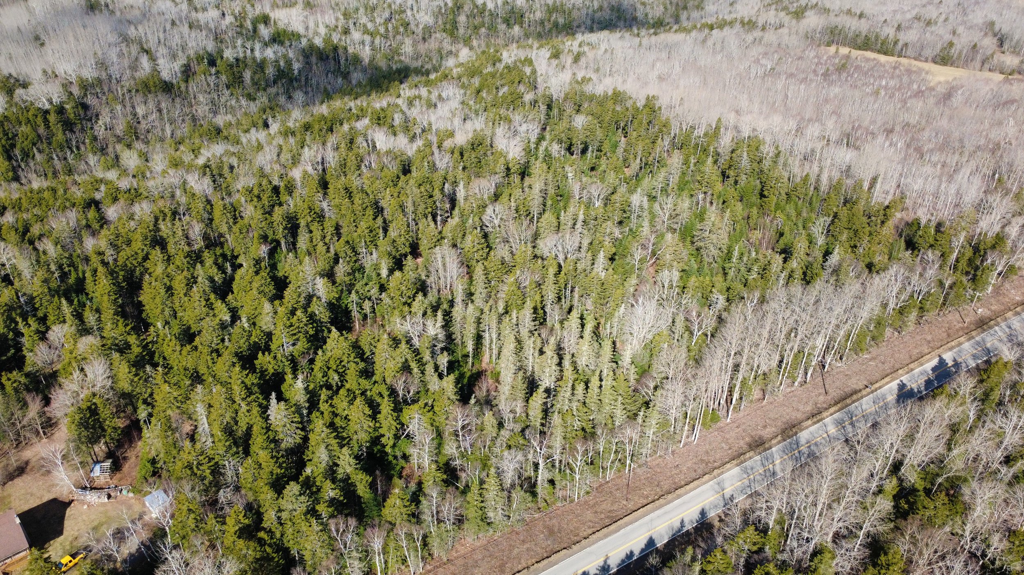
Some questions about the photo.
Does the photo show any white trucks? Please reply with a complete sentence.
No, the scene contains no white truck.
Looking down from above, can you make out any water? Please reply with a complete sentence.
No, there's no water in this view.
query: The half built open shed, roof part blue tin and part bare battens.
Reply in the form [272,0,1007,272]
[87,459,119,481]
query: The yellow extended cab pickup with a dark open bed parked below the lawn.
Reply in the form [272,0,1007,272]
[49,550,86,574]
